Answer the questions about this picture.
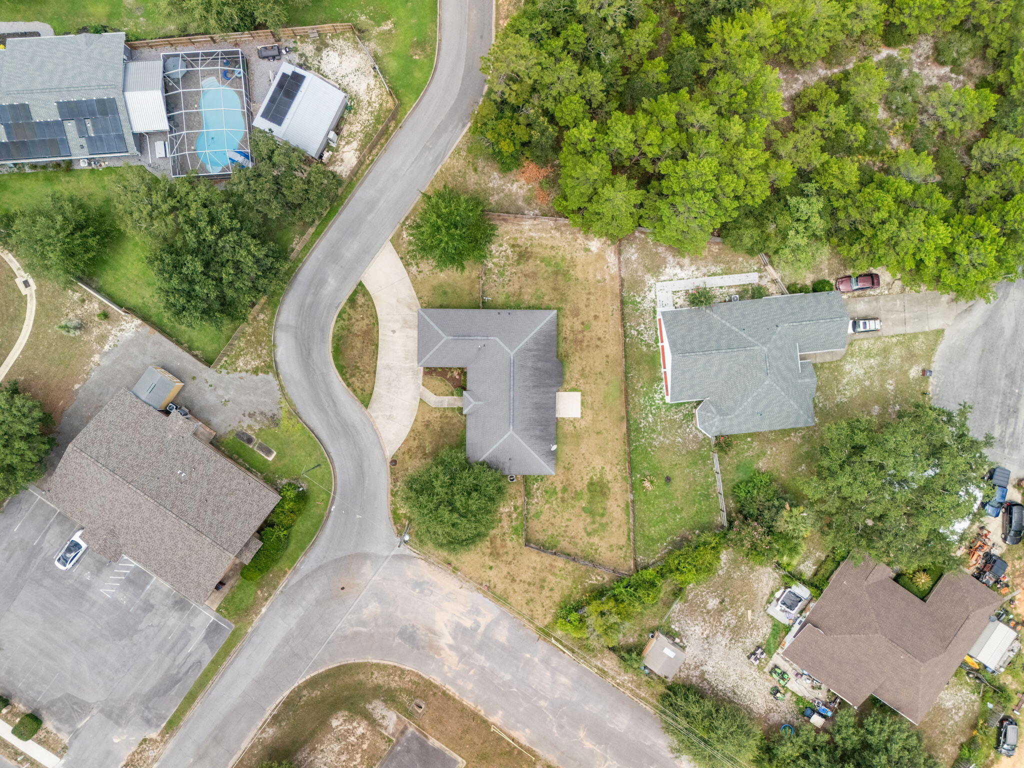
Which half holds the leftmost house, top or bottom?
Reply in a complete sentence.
Seen from above, the leftmost house lies in the top half of the view.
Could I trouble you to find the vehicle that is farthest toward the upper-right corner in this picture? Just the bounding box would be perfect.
[834,273,880,294]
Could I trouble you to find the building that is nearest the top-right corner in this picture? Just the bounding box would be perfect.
[653,292,849,438]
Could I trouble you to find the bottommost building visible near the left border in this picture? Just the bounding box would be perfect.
[43,388,283,604]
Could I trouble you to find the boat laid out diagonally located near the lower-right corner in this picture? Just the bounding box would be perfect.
[968,657,983,672]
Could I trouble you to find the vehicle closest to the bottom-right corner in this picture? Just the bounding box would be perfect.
[993,714,1019,756]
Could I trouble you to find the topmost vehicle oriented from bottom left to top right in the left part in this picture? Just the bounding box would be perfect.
[52,527,87,570]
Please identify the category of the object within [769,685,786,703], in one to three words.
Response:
work vehicle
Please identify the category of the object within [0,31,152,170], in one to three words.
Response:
house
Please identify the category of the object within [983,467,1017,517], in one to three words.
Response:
truck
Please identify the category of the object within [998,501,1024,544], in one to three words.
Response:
car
